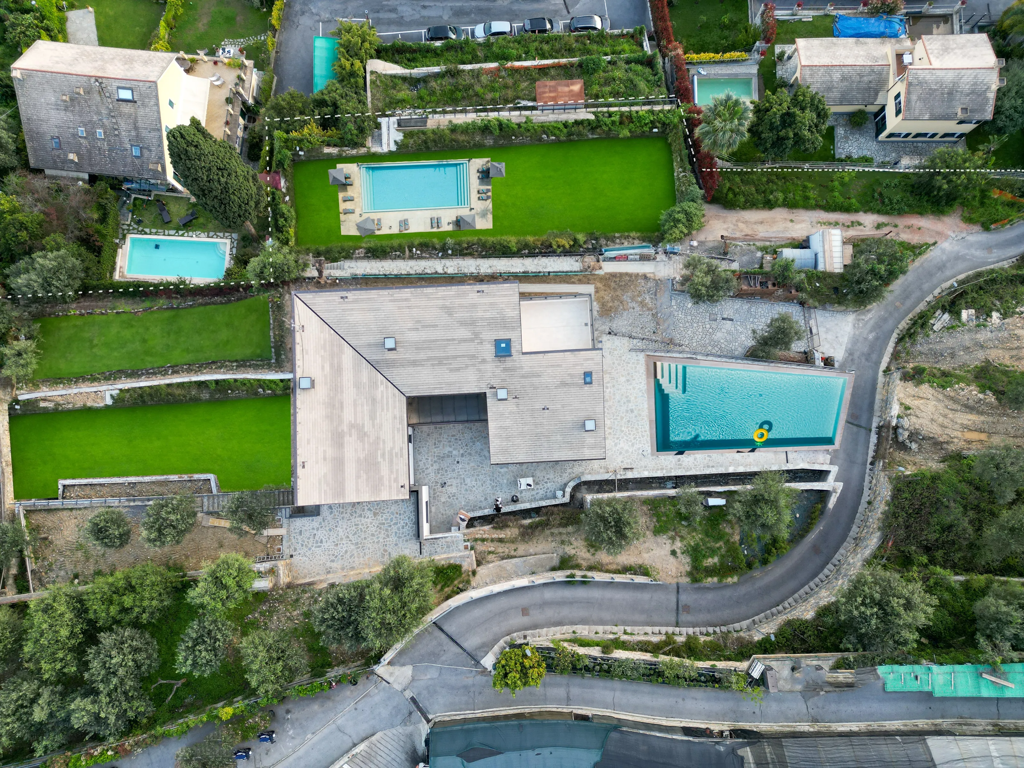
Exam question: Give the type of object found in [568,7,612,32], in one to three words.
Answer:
car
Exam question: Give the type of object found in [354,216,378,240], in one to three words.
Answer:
umbrella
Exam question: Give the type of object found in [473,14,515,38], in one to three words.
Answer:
car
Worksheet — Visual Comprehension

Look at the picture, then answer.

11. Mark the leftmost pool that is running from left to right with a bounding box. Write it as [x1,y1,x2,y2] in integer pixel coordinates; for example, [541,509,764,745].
[122,234,231,282]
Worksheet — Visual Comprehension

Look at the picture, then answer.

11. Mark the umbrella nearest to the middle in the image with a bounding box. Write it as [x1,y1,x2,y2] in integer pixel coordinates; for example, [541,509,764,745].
[459,214,477,232]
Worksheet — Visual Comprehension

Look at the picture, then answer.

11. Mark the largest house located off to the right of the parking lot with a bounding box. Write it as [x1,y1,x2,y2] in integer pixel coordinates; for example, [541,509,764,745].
[786,32,1012,141]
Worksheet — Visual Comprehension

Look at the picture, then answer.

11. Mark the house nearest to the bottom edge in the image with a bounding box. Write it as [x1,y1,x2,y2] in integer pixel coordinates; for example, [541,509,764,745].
[281,281,605,539]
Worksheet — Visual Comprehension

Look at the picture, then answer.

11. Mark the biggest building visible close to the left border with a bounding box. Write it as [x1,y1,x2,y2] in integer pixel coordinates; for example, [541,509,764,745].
[5,39,255,196]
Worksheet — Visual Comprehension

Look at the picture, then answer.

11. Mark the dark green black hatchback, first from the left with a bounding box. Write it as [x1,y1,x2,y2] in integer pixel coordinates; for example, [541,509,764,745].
[424,17,465,41]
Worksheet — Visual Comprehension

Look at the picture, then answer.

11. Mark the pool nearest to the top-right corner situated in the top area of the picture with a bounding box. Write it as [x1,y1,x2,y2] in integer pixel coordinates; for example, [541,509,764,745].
[690,72,757,113]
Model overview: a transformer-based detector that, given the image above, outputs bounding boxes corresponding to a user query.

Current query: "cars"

[473,14,515,38]
[424,17,465,41]
[568,7,612,32]
[522,9,564,35]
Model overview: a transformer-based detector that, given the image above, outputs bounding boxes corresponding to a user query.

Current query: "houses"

[786,32,1012,141]
[281,281,605,539]
[5,39,255,196]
